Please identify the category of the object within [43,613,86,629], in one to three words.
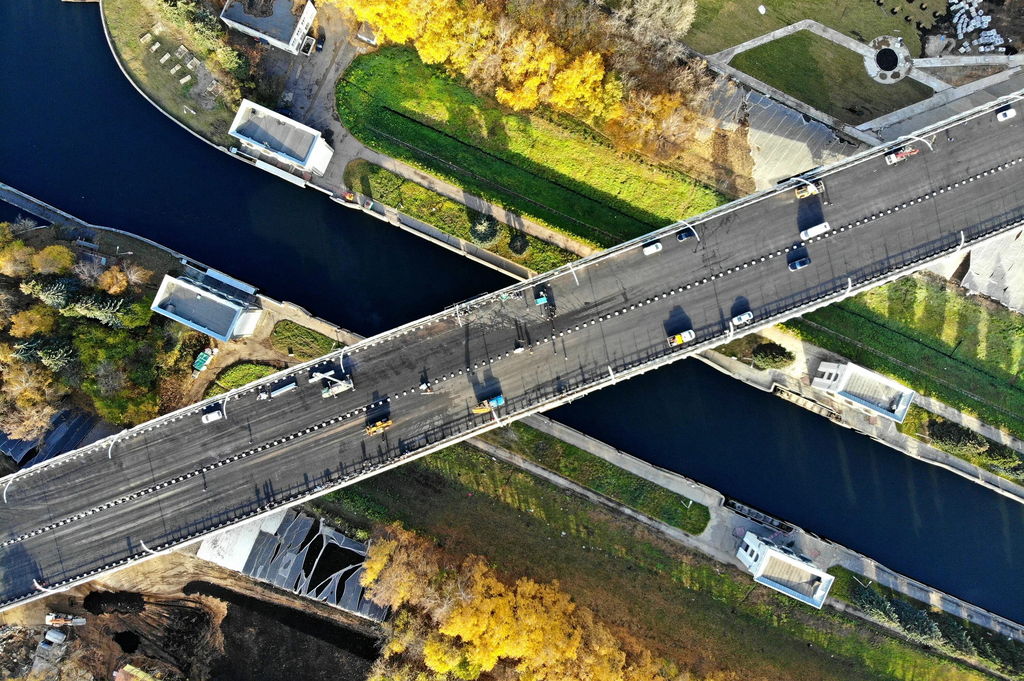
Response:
vehicle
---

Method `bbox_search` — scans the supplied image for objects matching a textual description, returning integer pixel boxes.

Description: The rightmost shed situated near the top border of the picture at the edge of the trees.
[357,21,382,49]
